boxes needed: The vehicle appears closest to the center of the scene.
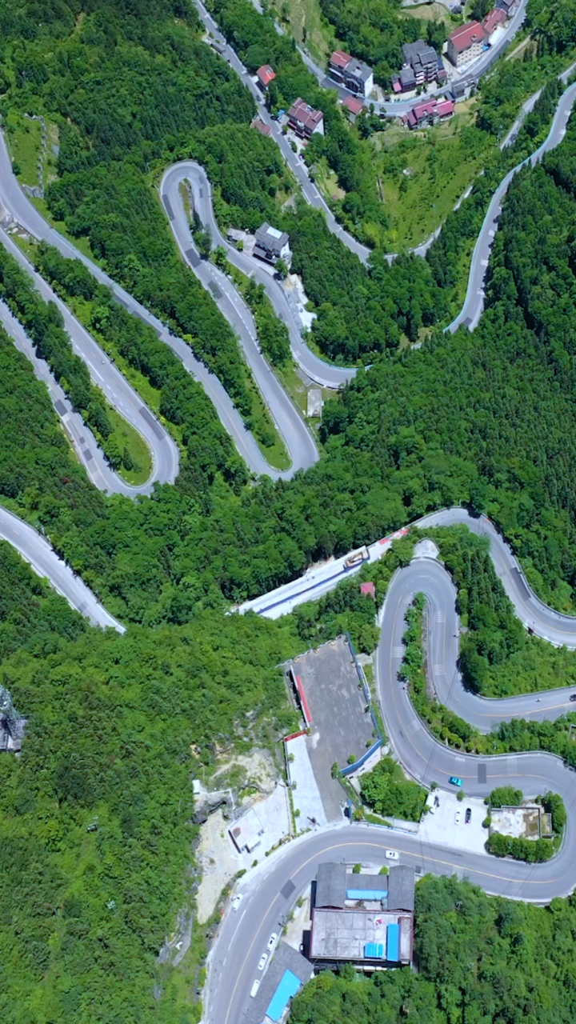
[343,550,371,568]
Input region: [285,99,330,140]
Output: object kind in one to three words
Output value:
house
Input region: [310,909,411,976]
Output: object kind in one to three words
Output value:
building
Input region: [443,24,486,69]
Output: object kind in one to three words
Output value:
house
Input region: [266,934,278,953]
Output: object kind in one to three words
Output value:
vehicle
